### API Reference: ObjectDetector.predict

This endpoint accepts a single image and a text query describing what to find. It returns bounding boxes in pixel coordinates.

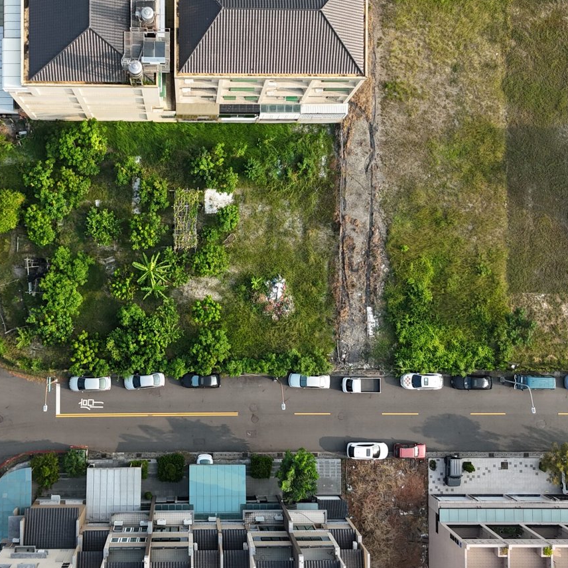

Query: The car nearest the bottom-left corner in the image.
[70,374,112,394]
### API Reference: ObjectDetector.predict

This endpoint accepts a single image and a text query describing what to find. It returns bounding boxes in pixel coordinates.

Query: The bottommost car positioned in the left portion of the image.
[197,449,214,464]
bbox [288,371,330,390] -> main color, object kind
white car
